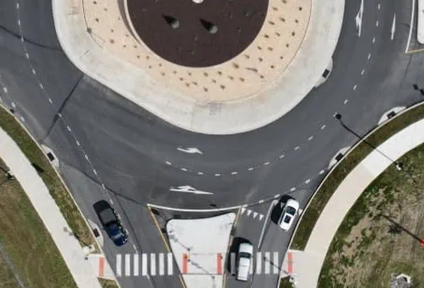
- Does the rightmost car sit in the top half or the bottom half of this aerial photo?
bottom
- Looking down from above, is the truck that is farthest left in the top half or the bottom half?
bottom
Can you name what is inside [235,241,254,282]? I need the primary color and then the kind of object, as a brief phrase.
white vehicle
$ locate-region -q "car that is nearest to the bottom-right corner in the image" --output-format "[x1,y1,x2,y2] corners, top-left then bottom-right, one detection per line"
[278,196,300,233]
